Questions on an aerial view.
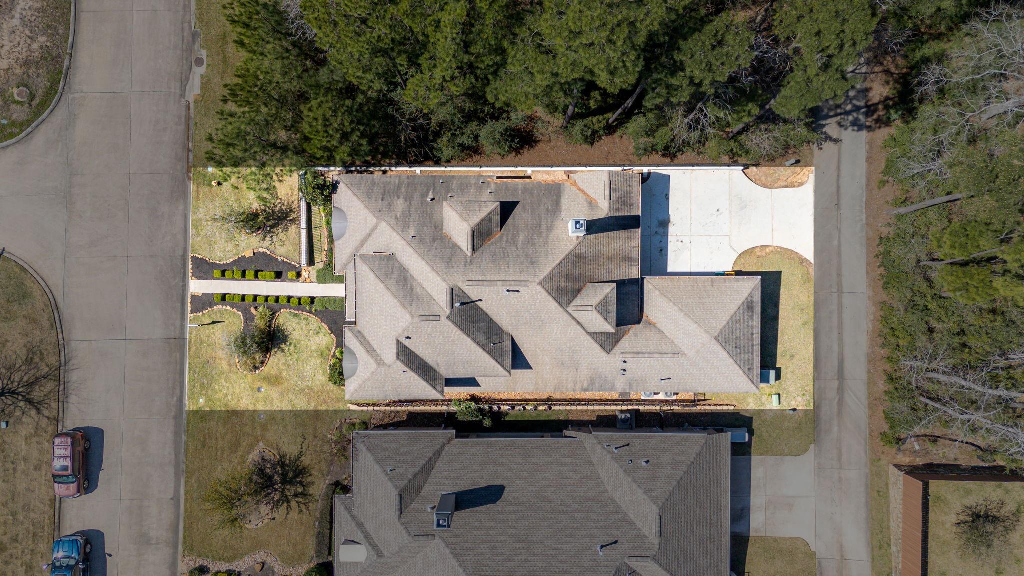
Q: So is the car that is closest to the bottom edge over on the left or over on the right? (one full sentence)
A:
The car that is closest to the bottom edge is on the left side of the image.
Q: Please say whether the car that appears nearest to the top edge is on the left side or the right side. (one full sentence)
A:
It is on the left.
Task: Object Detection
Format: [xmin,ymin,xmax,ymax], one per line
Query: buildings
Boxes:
[331,426,733,576]
[328,170,763,403]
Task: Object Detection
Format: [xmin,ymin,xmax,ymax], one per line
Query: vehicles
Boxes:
[53,533,95,576]
[51,427,93,498]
